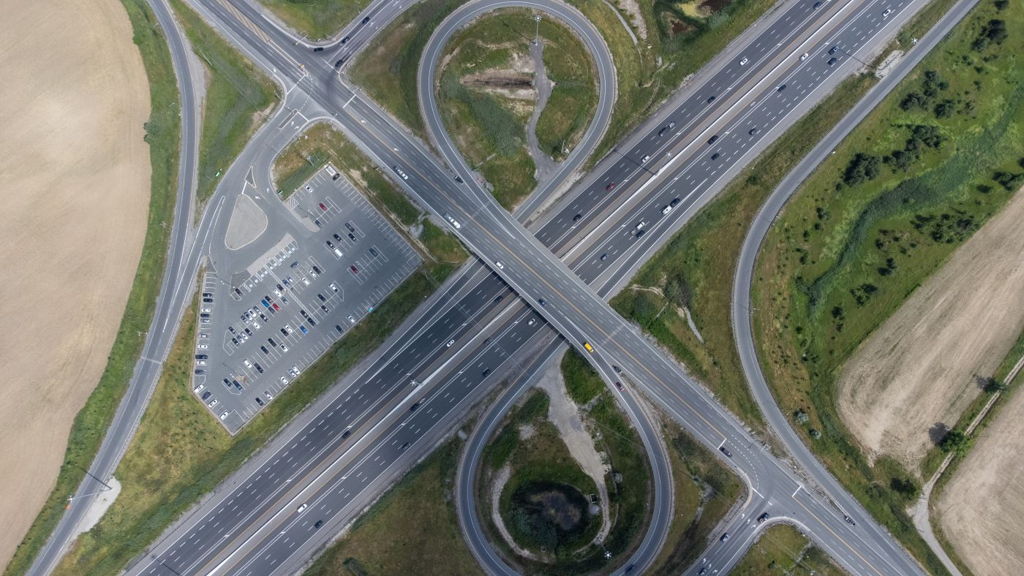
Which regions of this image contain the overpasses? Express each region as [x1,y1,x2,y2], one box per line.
[452,204,627,357]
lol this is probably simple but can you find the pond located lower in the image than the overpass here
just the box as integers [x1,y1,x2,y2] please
[519,483,585,534]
